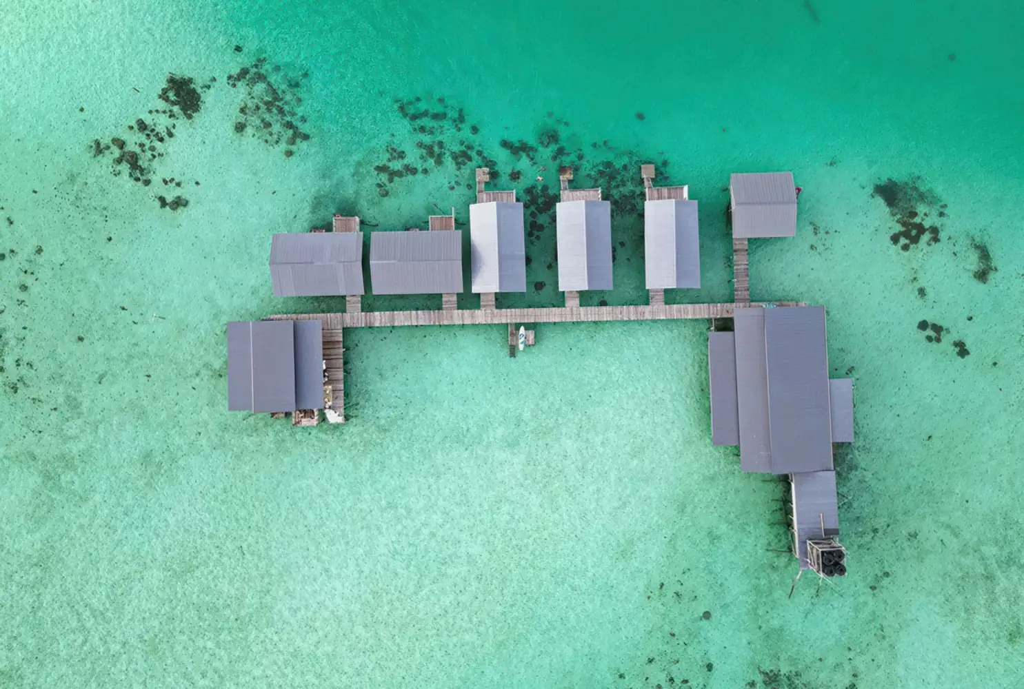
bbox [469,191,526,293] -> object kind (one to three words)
shed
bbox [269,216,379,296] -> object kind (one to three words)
shed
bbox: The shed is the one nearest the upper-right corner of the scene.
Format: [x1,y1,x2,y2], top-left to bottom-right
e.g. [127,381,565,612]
[722,172,797,238]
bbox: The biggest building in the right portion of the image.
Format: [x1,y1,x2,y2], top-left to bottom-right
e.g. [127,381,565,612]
[706,305,854,473]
